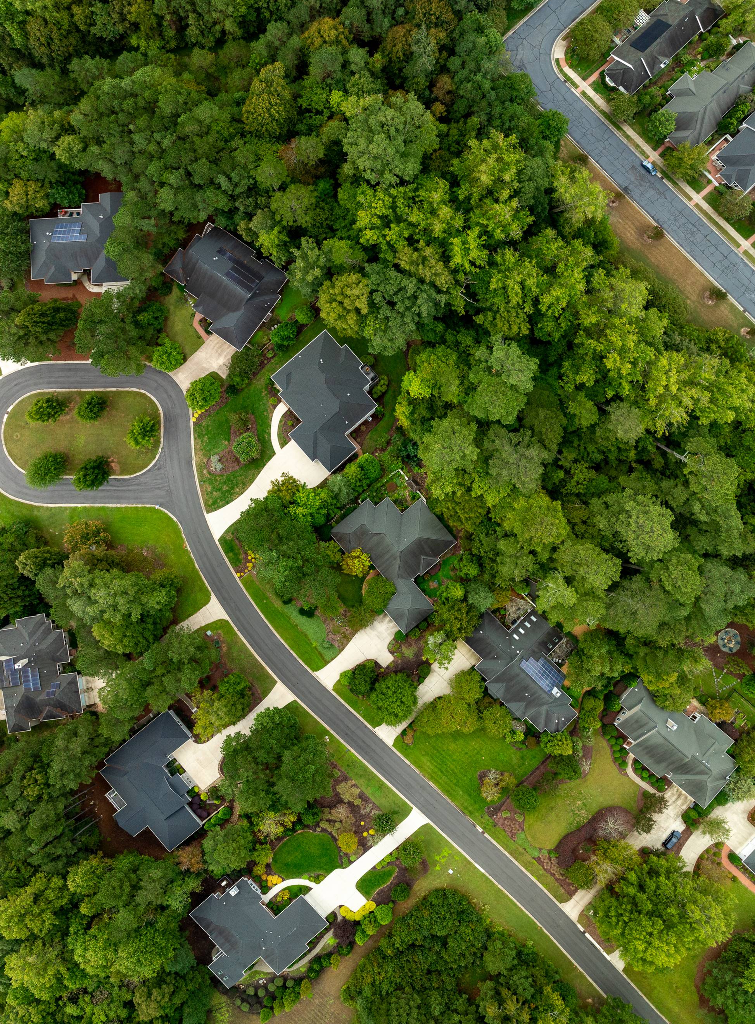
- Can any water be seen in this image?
No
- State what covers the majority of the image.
trees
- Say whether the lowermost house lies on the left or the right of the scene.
left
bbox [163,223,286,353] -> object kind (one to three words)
house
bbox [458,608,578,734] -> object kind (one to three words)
house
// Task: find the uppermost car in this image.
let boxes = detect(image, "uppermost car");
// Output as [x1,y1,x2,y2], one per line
[640,158,658,177]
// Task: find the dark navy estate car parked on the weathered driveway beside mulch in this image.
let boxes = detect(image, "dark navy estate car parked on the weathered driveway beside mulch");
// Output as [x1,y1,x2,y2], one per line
[664,829,680,851]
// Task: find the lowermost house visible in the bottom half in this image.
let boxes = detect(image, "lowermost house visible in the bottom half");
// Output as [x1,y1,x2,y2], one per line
[189,876,329,989]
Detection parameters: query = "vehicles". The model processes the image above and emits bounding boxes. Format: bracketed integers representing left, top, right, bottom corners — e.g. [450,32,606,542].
[640,158,658,177]
[664,829,680,851]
